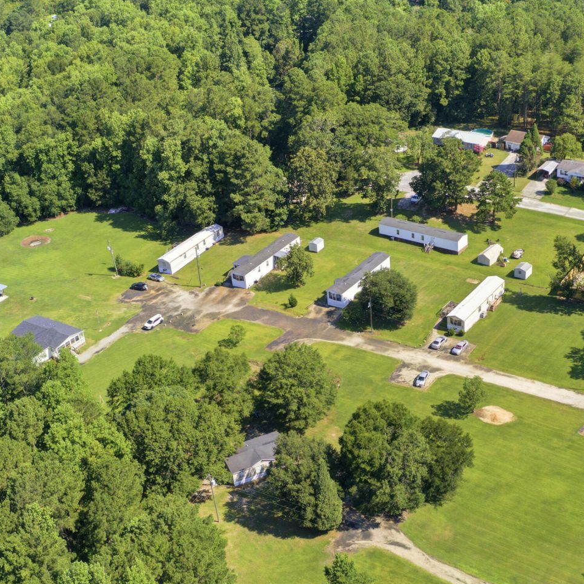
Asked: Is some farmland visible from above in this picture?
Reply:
No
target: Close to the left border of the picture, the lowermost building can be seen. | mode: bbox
[5,315,87,354]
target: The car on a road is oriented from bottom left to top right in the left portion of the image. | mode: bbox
[143,313,163,327]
